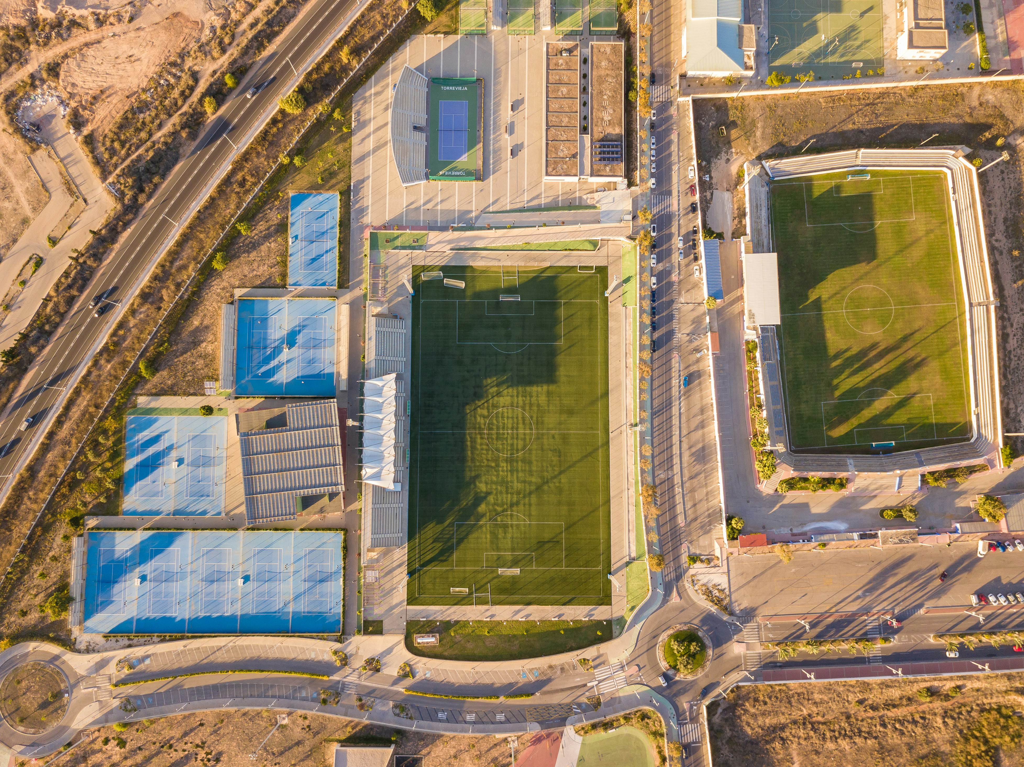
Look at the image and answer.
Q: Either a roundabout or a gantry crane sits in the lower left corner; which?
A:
roundabout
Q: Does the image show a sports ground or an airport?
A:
sports ground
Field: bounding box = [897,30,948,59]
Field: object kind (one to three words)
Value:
building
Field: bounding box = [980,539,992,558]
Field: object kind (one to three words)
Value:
vehicle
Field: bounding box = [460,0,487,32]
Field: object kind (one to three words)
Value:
sports court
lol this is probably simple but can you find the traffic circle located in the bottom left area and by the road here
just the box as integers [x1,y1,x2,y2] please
[0,651,86,748]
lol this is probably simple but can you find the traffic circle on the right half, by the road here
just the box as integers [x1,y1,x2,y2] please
[632,597,738,707]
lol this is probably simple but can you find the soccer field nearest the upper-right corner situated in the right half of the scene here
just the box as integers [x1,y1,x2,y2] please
[770,169,973,454]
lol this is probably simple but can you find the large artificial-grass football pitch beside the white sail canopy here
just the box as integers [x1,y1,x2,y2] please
[407,265,612,605]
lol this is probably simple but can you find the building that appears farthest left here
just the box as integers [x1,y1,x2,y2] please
[236,399,349,526]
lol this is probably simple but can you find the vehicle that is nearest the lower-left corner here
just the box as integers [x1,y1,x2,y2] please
[18,418,31,431]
